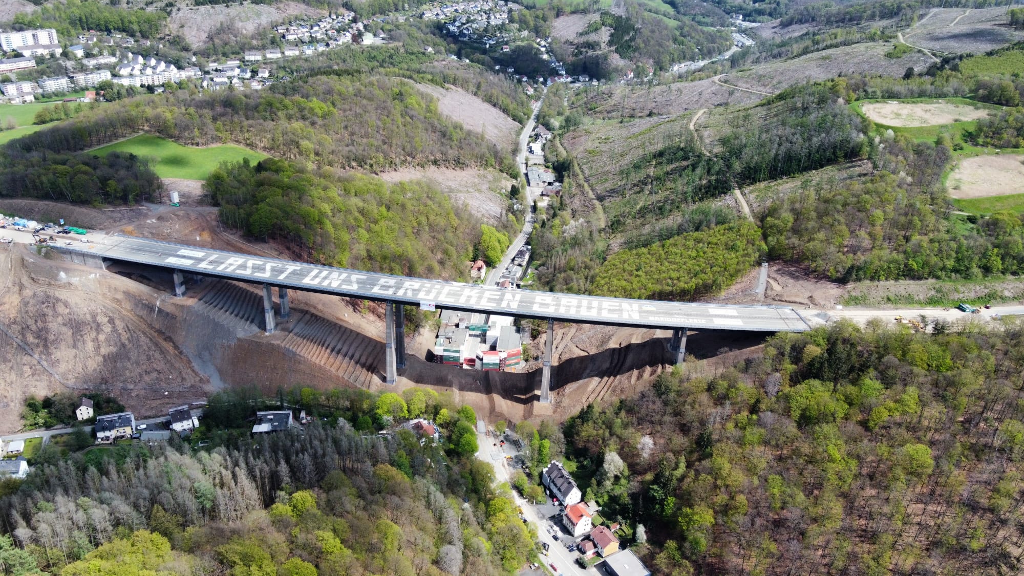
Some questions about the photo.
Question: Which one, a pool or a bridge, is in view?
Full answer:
Looking from above, you can make out a bridge.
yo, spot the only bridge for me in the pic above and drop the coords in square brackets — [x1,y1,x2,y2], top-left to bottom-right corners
[53,233,816,409]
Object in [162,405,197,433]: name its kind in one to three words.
house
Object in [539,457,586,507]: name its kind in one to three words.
house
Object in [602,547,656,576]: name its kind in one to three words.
building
